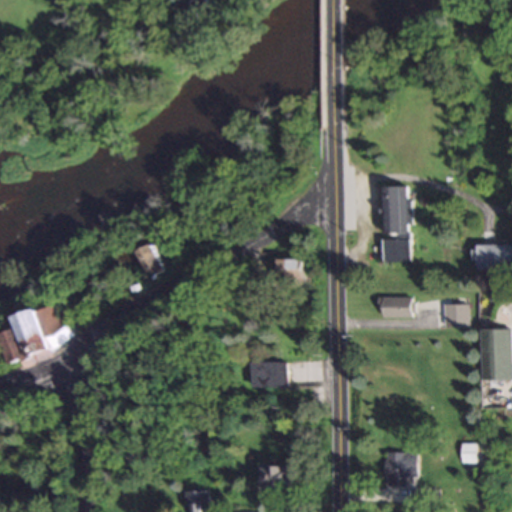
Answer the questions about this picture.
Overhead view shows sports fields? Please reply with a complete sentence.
No, the frame has no sports field in it.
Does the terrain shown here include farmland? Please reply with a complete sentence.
No, farmland can't be seen anywhere here.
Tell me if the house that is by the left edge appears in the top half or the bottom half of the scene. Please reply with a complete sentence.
Seen from above, the house that is by the left edge lies in the bottom half of the view.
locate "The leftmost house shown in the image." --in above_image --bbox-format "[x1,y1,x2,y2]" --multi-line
[0,306,74,369]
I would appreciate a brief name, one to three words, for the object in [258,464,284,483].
house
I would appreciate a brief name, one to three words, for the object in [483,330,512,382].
building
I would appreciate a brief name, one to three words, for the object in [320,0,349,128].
bridge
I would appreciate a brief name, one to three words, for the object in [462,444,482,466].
shed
